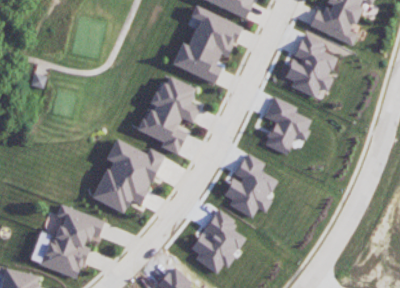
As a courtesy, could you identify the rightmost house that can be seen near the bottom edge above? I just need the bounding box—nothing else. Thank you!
[192,209,250,276]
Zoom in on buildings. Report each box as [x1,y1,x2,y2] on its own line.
[310,0,376,44]
[172,6,240,86]
[91,140,166,214]
[204,0,256,20]
[261,98,314,158]
[31,208,106,280]
[137,76,202,158]
[284,30,339,98]
[224,154,282,220]
[192,209,250,276]
[164,267,196,288]
[0,268,45,288]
